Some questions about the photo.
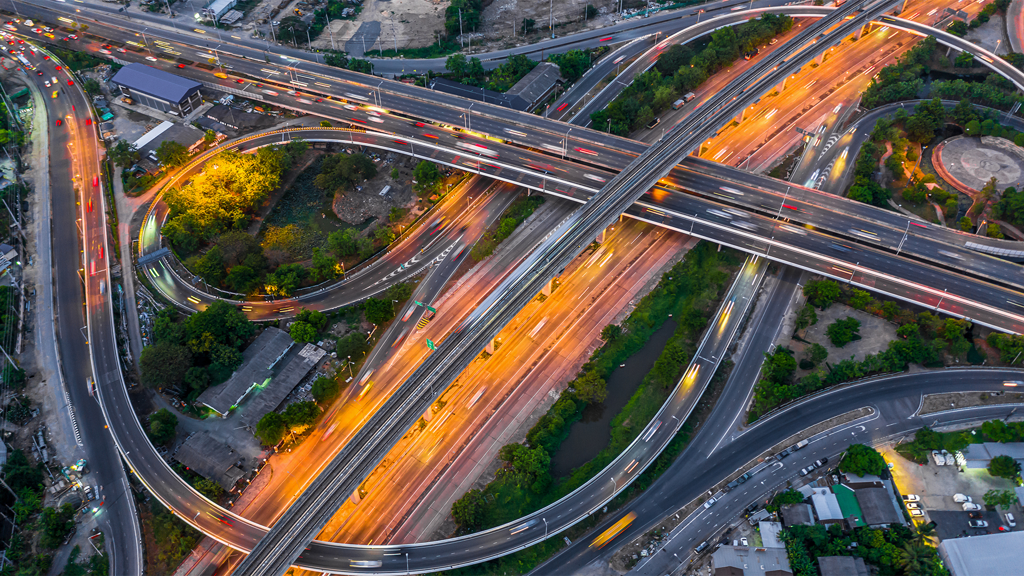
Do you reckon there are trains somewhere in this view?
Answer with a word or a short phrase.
Yes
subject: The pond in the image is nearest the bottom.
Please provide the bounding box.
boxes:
[260,154,379,258]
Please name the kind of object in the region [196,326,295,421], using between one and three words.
shed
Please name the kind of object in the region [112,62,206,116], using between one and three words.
building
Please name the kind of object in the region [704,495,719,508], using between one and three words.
vehicle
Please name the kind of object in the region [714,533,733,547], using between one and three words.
vehicle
